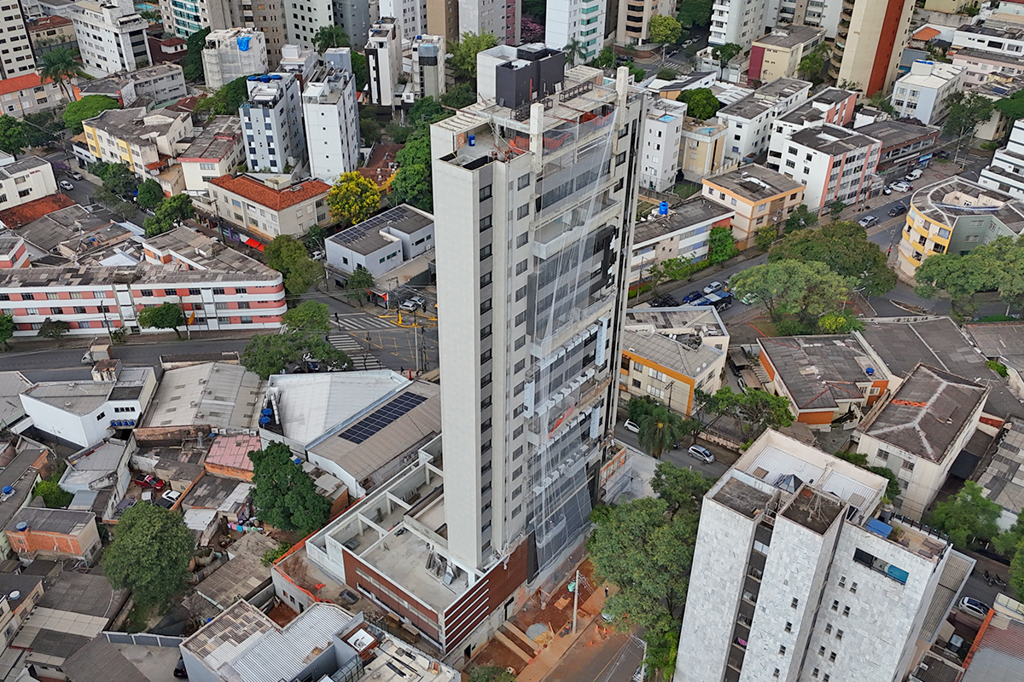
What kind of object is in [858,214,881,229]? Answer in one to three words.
vehicle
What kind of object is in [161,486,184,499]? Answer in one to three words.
vehicle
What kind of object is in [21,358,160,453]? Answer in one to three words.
house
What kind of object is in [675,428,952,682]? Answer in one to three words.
building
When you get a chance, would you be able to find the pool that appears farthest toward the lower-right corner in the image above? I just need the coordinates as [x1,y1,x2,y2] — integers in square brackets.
[886,565,910,587]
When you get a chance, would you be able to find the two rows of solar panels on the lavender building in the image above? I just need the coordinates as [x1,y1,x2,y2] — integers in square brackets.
[335,202,433,246]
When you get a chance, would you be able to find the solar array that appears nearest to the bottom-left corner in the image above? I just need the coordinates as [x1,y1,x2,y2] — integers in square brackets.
[336,383,436,446]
